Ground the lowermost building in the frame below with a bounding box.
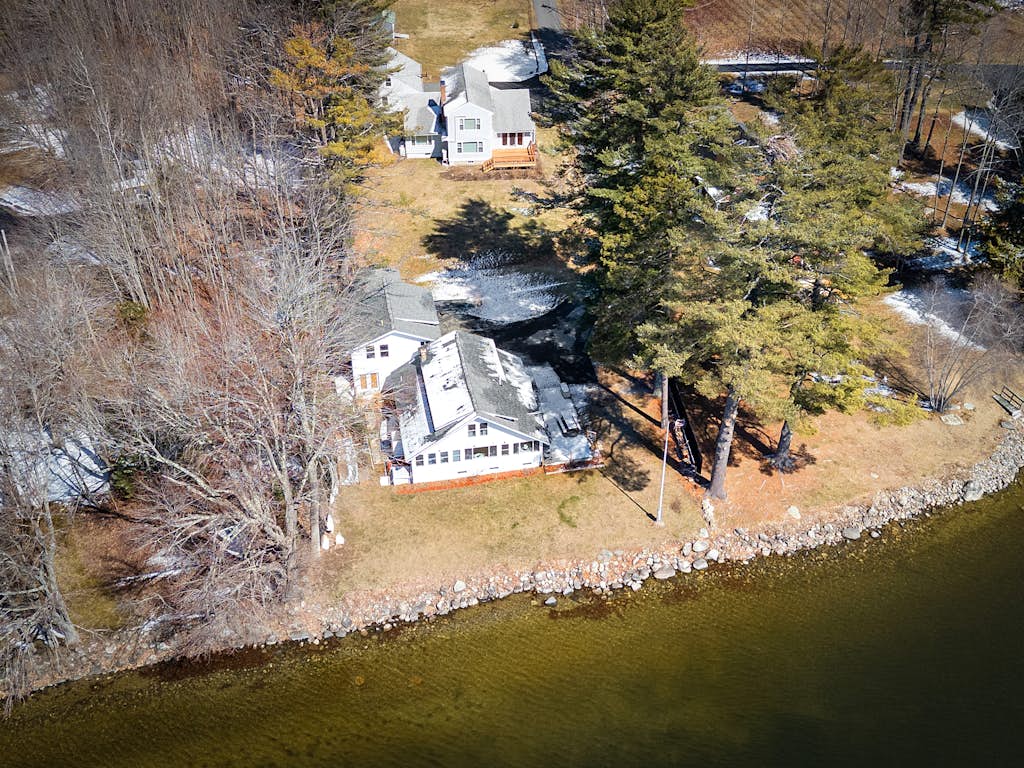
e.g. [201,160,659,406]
[379,335,549,486]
